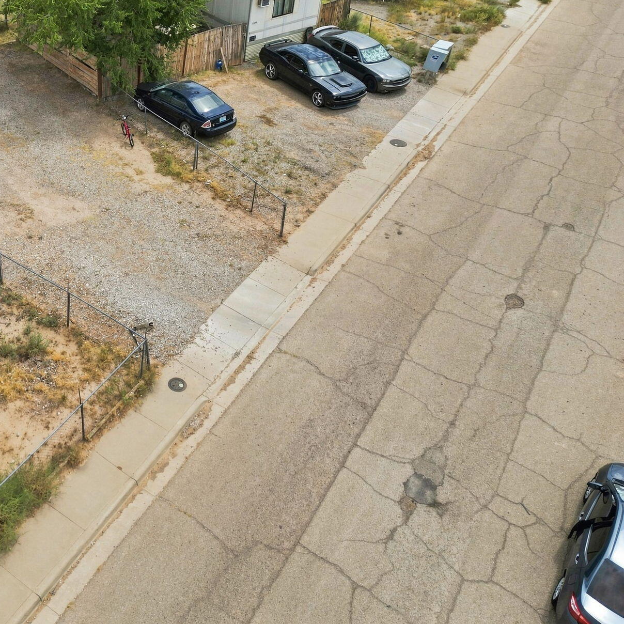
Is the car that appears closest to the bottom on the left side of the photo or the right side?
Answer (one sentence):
The car that appears closest to the bottom is on the right side of the image.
